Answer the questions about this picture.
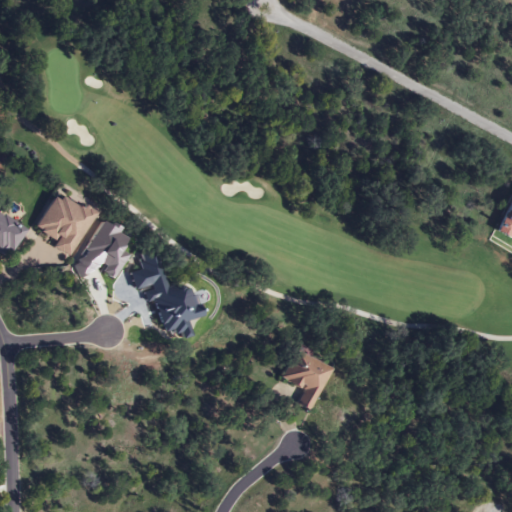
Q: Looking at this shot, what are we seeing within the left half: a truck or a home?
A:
home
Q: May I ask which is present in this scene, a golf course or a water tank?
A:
golf course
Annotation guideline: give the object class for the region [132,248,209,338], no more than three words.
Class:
house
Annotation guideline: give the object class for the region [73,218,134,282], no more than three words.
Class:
house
